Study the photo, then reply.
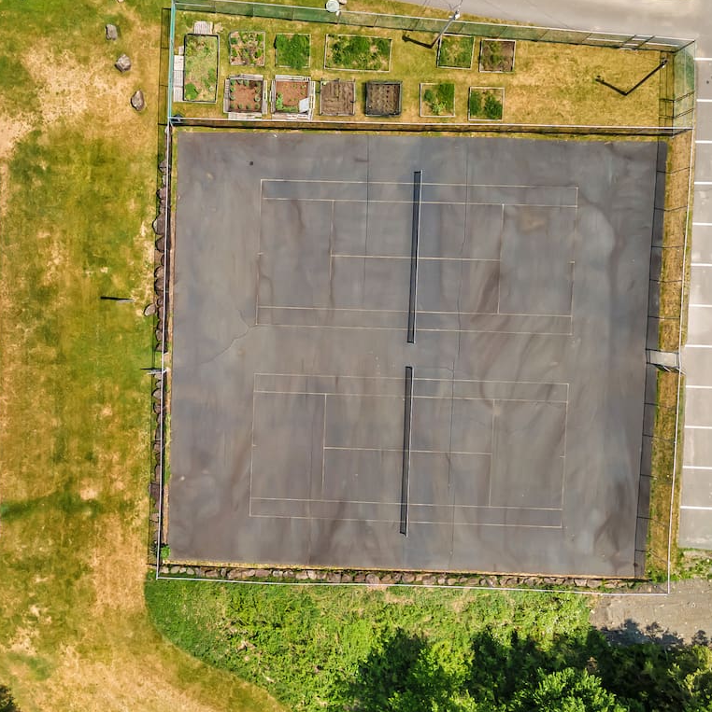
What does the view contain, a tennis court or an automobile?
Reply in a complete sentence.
There is a tennis court in the scene.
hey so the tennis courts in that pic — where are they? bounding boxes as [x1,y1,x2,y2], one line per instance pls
[172,132,666,369]
[167,354,656,578]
